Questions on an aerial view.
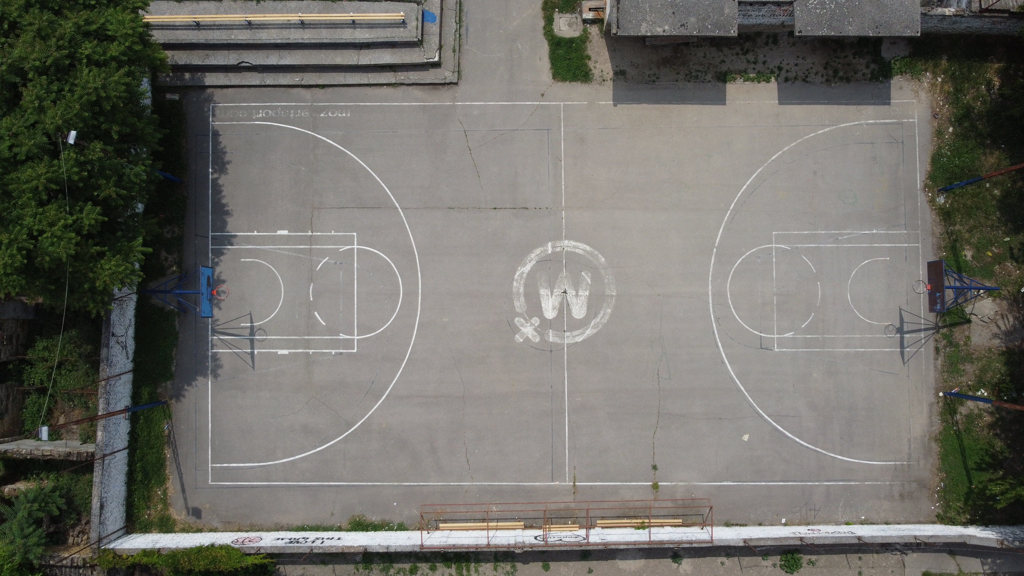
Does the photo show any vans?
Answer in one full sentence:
No, the picture doesn't show any van.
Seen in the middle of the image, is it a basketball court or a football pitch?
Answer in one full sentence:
The one visible in the middle of the image is a basketball court.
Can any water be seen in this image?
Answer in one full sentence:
No, there is no water in the image.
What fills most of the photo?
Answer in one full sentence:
What you mostly see from above here is paved ground.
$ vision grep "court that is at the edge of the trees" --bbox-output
[195,21,924,488]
